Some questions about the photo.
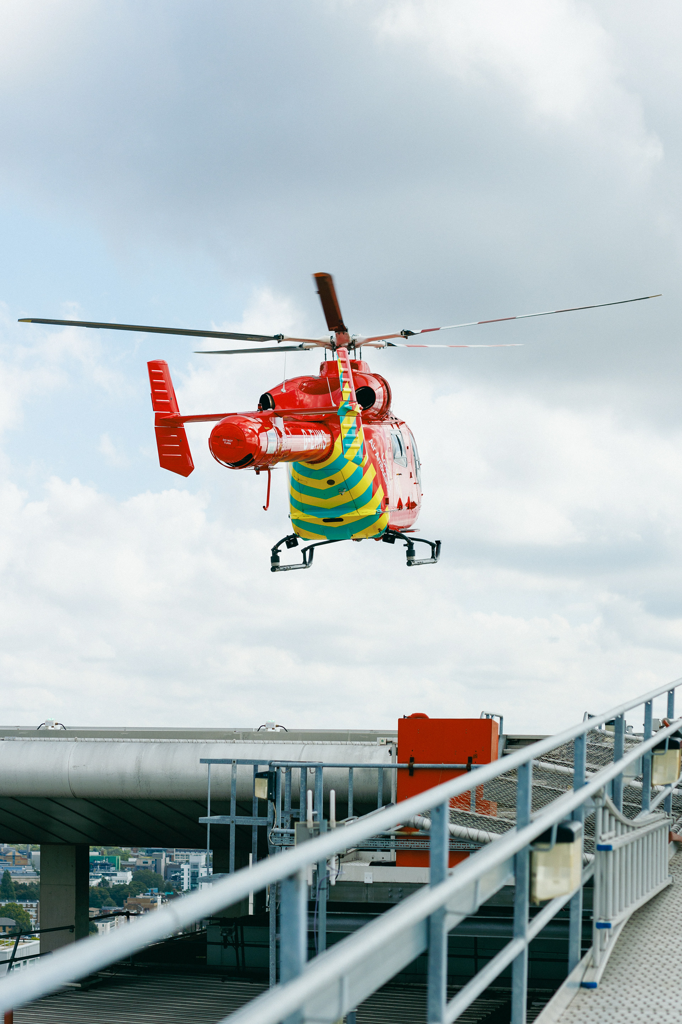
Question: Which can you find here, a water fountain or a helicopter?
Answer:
helicopter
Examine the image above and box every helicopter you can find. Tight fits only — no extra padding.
[17,273,661,571]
